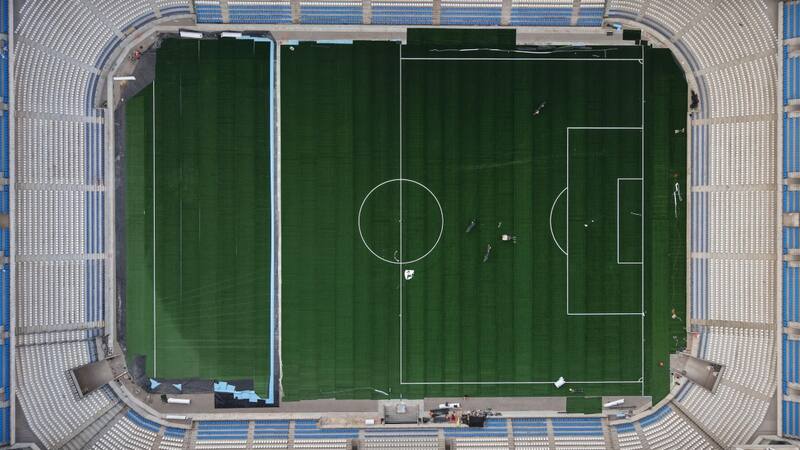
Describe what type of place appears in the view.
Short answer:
sports ground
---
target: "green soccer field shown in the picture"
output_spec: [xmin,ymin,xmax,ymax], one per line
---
[126,39,685,402]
